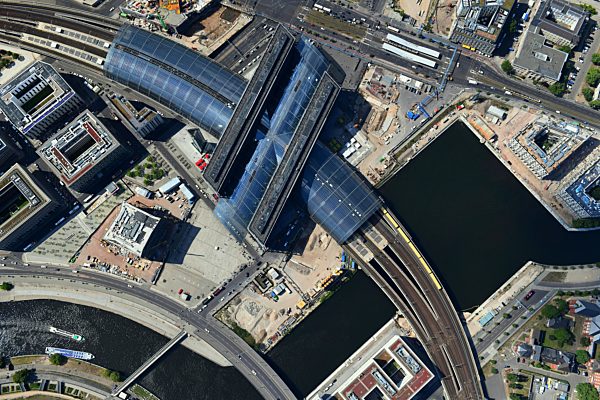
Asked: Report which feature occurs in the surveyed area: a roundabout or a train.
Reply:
train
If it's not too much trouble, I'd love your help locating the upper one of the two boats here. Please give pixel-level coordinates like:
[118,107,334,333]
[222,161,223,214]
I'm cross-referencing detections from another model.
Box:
[49,326,84,341]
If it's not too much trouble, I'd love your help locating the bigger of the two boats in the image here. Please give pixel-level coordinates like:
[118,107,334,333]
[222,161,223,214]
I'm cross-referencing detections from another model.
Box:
[45,346,96,360]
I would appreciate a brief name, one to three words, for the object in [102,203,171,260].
building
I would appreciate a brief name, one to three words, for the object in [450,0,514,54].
building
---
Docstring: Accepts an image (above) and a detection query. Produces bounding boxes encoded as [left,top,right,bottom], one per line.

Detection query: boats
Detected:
[49,326,84,341]
[45,346,96,360]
